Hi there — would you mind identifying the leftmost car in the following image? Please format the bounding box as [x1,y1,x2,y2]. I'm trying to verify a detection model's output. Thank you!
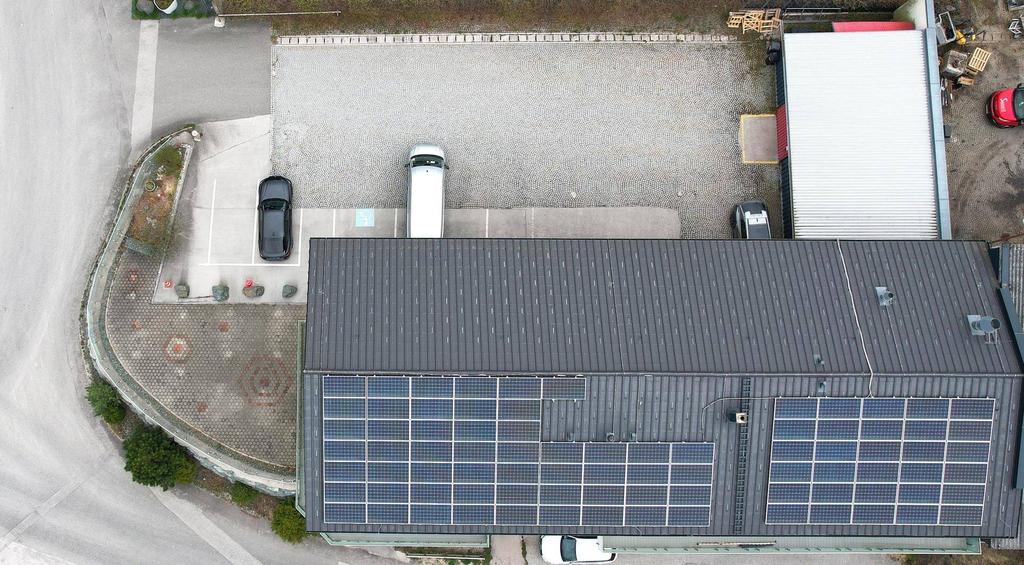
[256,176,295,262]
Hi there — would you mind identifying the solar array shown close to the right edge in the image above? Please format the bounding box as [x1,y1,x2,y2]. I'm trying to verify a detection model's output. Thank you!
[766,395,995,527]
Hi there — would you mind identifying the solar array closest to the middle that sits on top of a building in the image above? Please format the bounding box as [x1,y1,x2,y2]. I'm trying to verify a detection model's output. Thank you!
[323,374,713,526]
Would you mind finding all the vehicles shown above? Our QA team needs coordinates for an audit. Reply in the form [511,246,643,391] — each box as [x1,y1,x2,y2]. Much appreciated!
[730,200,771,238]
[538,537,617,565]
[405,144,449,237]
[981,87,1024,128]
[256,176,295,262]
